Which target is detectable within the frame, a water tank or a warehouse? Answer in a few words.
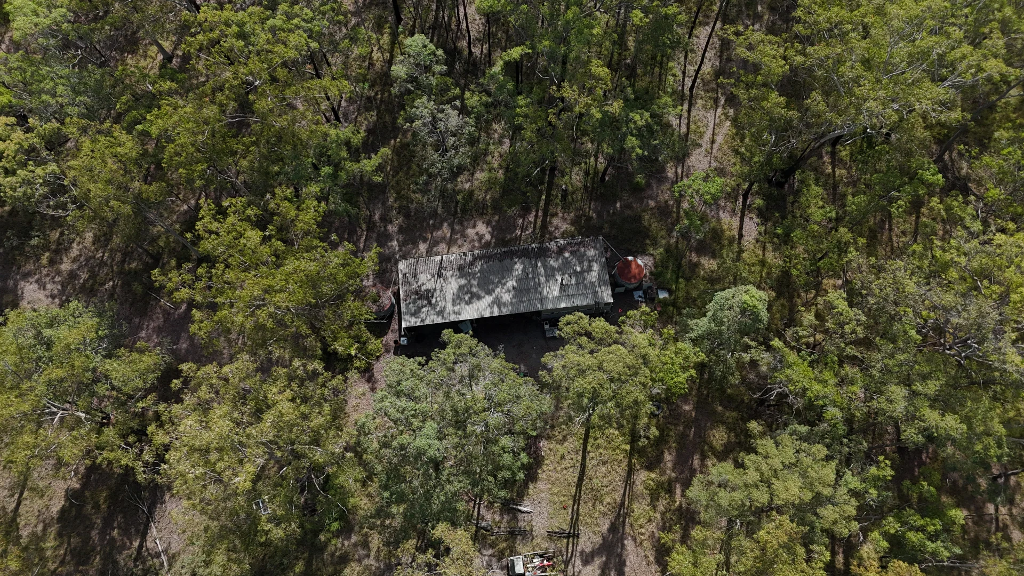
water tank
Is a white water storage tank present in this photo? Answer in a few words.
No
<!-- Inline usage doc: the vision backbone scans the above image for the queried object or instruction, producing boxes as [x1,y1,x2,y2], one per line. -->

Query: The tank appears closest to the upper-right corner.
[613,258,646,293]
